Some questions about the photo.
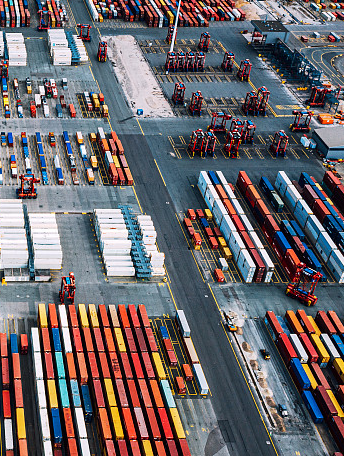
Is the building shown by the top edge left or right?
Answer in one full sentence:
It is on the right.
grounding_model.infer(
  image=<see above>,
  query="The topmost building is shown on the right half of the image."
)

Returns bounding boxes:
[250,21,289,42]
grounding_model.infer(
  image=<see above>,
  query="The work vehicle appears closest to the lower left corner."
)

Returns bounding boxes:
[58,265,77,305]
